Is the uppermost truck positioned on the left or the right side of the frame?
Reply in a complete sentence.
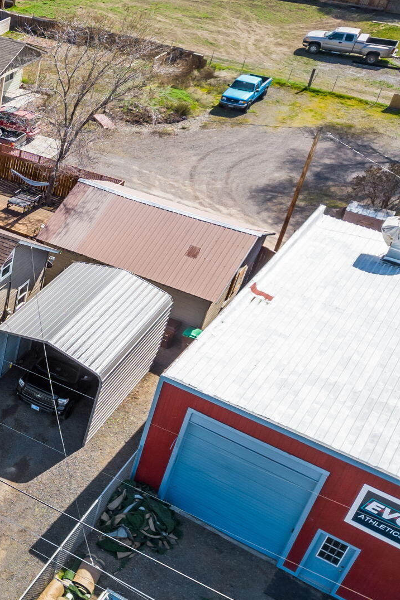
It is on the right.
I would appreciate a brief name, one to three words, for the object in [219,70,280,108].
truck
